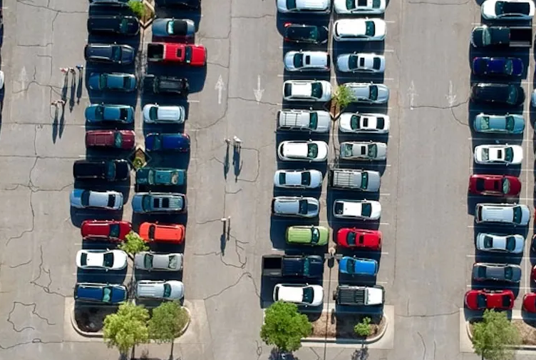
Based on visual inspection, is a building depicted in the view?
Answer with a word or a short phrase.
No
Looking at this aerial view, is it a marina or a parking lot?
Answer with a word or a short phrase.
parking lot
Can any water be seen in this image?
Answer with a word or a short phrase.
No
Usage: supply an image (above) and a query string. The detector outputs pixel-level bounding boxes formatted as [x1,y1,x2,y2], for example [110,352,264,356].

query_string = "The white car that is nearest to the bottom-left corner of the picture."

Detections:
[77,247,128,272]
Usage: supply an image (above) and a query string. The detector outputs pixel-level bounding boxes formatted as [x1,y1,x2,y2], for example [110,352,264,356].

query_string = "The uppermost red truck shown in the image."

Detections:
[147,41,206,67]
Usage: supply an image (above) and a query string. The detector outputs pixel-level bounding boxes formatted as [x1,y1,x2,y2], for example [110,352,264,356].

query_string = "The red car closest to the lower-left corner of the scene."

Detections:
[81,218,133,243]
